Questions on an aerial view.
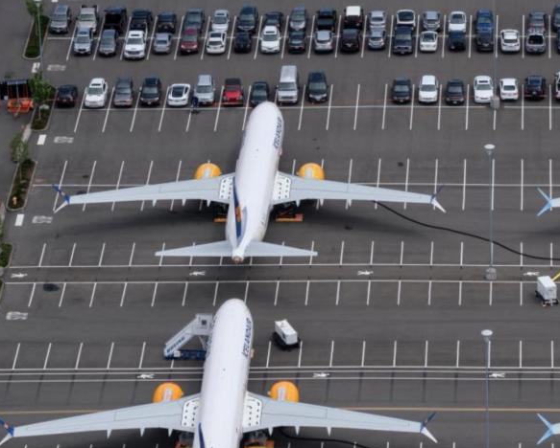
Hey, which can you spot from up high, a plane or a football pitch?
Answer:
plane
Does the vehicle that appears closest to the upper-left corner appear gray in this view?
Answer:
Yes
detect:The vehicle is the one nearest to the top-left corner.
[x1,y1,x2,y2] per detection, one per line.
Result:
[49,5,73,33]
